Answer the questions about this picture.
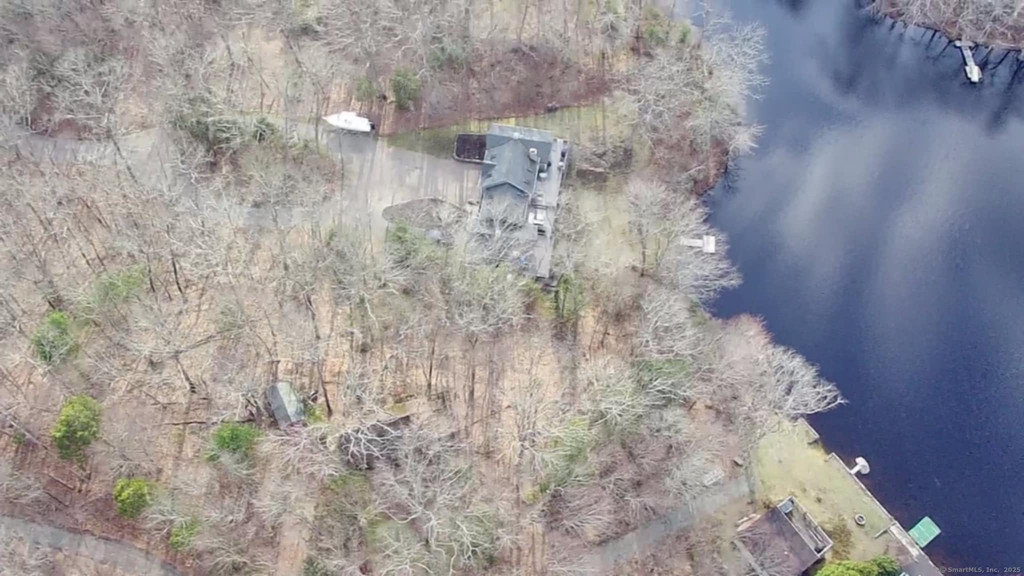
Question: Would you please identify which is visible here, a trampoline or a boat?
boat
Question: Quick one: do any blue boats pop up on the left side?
No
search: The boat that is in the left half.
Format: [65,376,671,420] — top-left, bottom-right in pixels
[323,110,374,136]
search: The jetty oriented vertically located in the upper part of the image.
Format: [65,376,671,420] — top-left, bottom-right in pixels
[956,40,983,80]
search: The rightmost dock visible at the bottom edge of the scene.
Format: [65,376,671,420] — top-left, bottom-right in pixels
[907,516,942,548]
